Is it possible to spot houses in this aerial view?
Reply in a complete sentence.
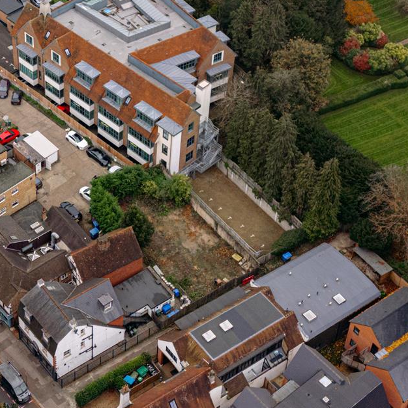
Yes, looking at the shot, I can spot a house.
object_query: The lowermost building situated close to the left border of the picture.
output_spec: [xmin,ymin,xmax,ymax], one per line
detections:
[14,268,124,380]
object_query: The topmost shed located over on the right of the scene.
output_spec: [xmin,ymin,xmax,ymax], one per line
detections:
[346,238,396,285]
